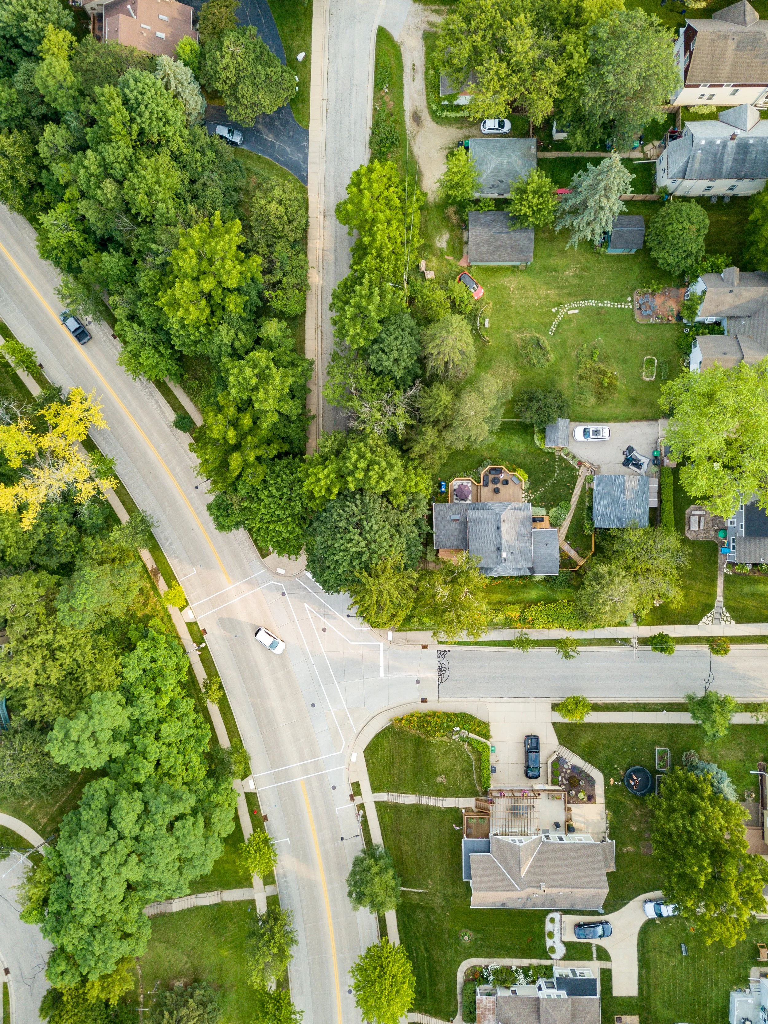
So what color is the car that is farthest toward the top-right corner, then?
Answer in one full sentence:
The color of the car that is farthest toward the top-right corner is white.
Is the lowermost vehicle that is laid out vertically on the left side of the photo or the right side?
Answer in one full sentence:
The lowermost vehicle that is laid out vertically sits on the right side.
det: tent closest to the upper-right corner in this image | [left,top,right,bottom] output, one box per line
[622,445,650,475]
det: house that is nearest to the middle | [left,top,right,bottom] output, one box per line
[433,503,559,575]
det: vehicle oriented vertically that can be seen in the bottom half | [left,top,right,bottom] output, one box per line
[523,734,543,779]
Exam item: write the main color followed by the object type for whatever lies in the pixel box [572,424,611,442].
white car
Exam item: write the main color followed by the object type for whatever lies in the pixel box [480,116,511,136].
white car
